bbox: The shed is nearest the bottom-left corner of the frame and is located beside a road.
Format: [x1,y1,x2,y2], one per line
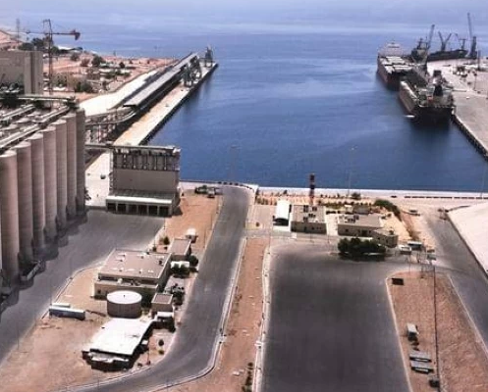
[89,312,150,369]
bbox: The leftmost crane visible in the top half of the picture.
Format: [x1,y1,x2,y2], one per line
[10,21,81,114]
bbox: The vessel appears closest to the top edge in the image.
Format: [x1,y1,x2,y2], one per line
[401,17,472,69]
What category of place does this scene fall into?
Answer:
port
